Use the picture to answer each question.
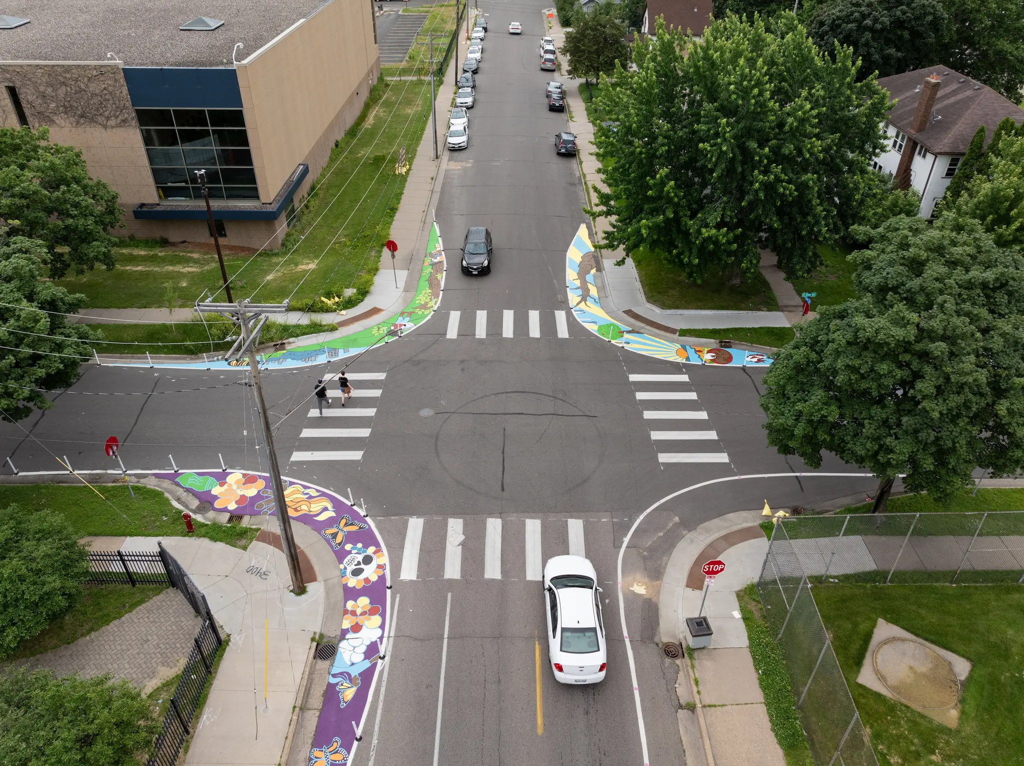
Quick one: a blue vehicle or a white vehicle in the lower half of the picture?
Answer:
white vehicle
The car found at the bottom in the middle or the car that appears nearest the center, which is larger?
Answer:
the car found at the bottom in the middle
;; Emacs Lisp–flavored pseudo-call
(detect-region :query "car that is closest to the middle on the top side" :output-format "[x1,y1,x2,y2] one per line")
[460,224,496,274]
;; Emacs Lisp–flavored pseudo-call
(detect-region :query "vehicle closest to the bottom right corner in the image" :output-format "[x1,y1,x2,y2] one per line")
[538,557,611,686]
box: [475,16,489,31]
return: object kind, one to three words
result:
car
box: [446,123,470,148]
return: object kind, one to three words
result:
car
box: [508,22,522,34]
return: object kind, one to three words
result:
vehicle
